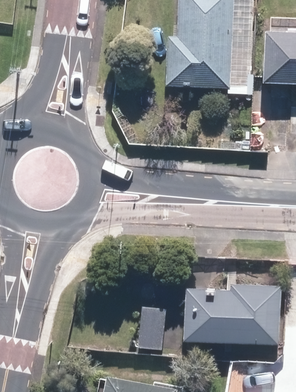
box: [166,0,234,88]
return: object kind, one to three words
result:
house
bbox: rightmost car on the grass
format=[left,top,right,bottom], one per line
[153,28,168,56]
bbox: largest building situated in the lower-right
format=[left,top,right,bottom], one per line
[184,284,282,346]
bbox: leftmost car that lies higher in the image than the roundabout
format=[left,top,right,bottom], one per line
[4,118,32,132]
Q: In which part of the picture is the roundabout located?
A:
left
